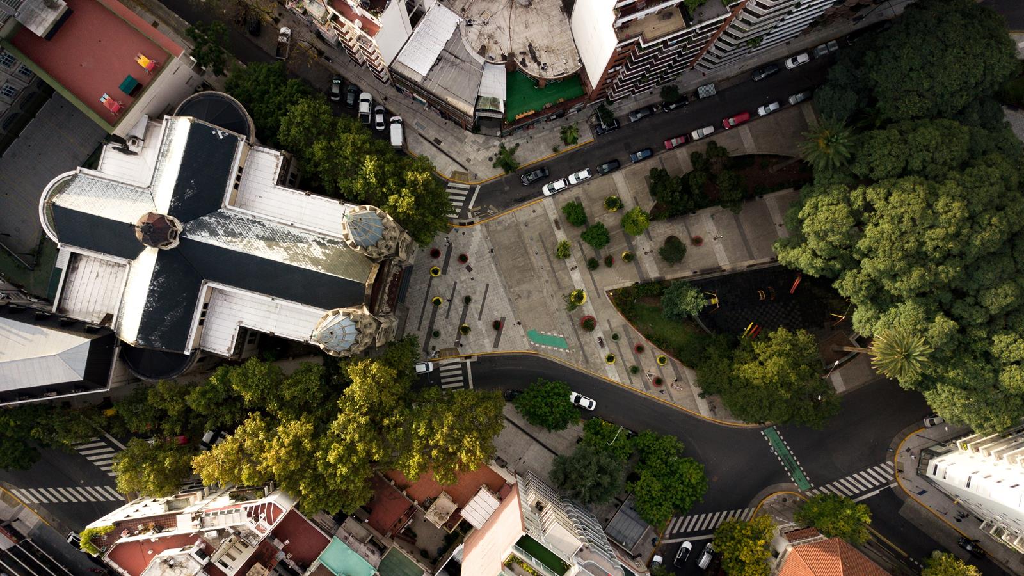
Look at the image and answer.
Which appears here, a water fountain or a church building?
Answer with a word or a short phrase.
church building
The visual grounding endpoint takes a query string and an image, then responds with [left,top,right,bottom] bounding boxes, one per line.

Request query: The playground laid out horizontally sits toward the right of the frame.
[692,264,889,350]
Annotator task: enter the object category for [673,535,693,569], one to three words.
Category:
vehicle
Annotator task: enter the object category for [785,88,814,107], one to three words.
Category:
car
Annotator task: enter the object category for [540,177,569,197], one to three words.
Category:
car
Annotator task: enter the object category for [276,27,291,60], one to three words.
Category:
vehicle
